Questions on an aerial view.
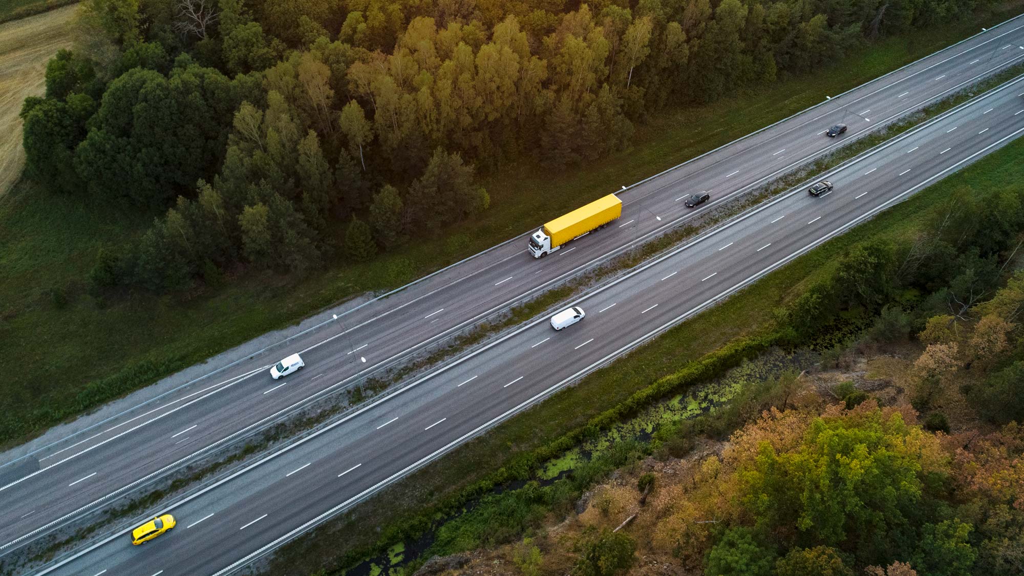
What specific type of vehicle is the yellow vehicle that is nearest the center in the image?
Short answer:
truck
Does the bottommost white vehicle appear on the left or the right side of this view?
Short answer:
left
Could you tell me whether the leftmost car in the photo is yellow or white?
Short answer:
yellow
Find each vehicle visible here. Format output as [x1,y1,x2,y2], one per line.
[528,194,622,257]
[272,353,306,379]
[552,306,587,330]
[130,513,176,545]
[685,191,710,209]
[807,182,832,198]
[826,123,848,138]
